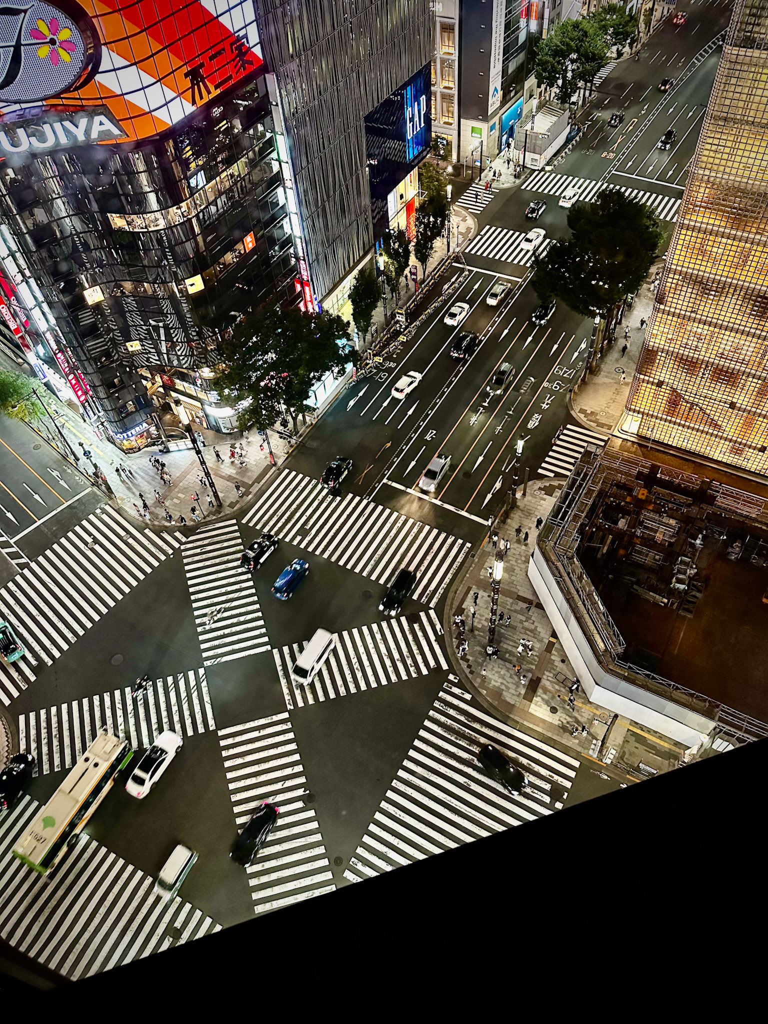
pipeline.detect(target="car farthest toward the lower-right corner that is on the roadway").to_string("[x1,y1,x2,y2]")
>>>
[473,736,532,801]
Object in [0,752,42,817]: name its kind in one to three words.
car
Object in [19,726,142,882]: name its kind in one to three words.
bus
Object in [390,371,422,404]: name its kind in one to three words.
car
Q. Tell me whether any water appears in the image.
No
